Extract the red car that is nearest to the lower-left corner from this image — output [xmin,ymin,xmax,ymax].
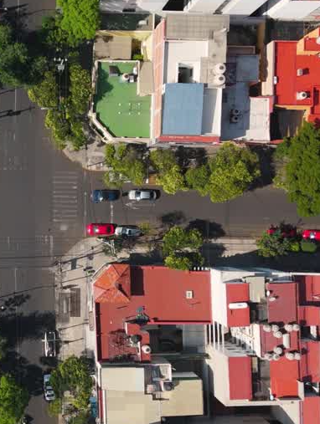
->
[87,223,114,236]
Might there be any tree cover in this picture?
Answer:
Yes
